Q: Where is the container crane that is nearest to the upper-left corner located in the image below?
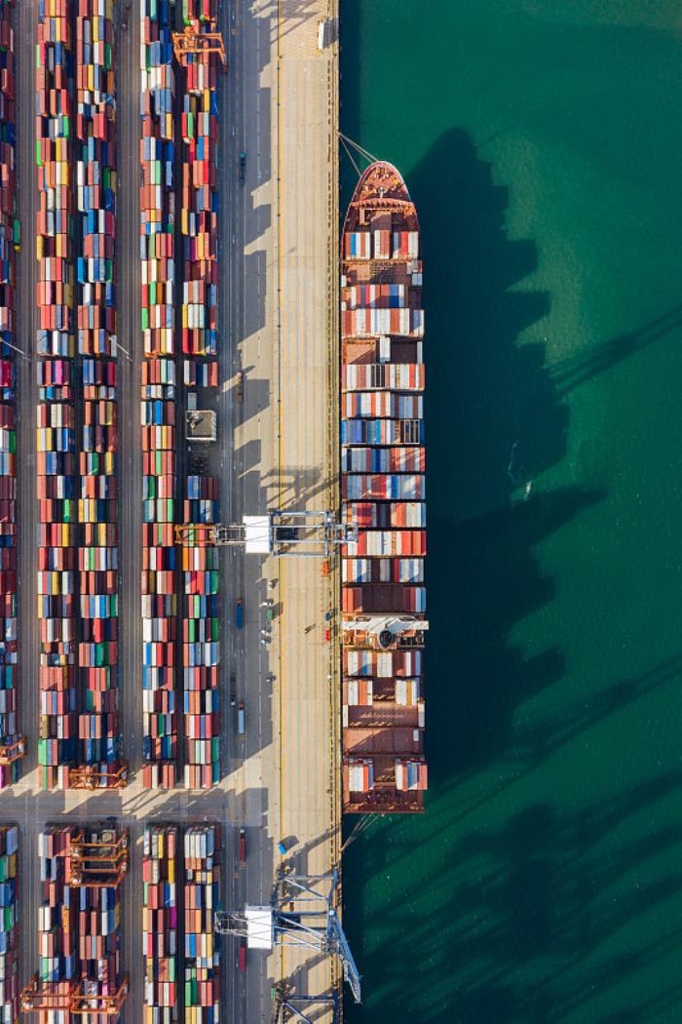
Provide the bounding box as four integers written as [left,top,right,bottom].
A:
[171,32,227,80]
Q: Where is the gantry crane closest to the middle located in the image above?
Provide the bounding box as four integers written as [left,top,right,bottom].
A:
[216,503,359,557]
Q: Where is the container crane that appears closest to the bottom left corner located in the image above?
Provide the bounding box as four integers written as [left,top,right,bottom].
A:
[21,966,84,1012]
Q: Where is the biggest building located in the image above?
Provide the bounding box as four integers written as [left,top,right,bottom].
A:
[185,409,216,441]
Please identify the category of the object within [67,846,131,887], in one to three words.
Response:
container crane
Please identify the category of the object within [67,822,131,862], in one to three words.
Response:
container crane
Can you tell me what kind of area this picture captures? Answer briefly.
port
